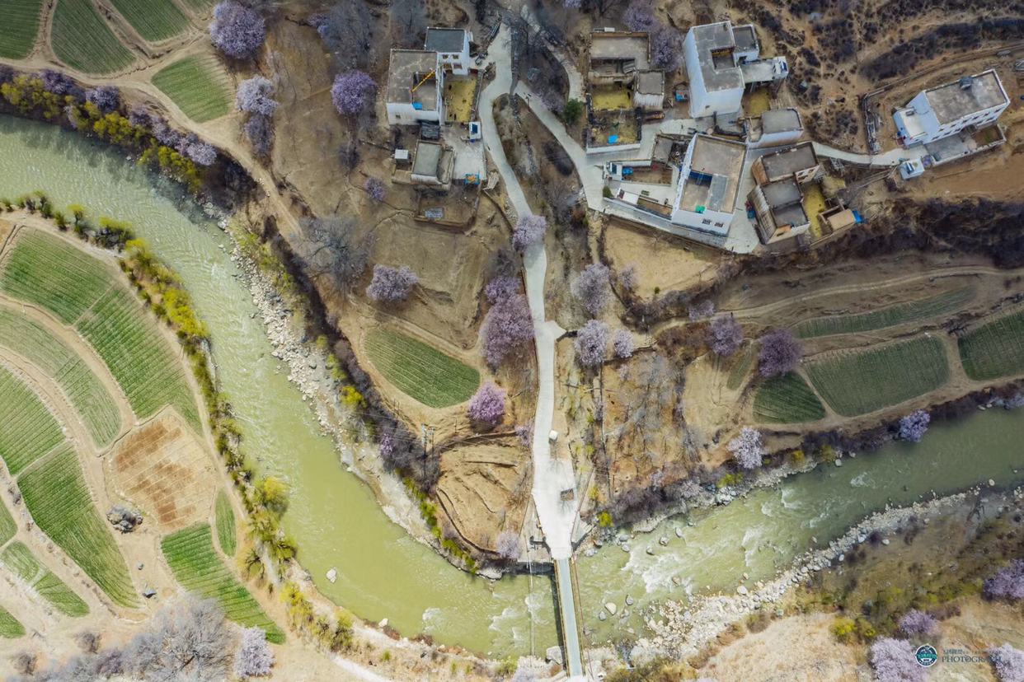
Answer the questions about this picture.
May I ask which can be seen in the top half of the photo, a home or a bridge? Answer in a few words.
home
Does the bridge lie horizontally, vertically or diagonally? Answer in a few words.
vertically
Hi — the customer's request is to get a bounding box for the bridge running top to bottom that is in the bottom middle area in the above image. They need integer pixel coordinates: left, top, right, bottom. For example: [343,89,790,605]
[551,555,591,681]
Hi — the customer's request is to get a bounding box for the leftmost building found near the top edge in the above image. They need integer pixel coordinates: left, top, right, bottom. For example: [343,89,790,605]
[386,28,469,132]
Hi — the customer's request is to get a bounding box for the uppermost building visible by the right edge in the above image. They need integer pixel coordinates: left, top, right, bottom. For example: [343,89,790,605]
[889,69,1010,150]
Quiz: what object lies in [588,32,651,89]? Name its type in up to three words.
house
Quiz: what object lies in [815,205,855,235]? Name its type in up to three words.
shed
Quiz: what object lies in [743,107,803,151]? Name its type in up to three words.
barn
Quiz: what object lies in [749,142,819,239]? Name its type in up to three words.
house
